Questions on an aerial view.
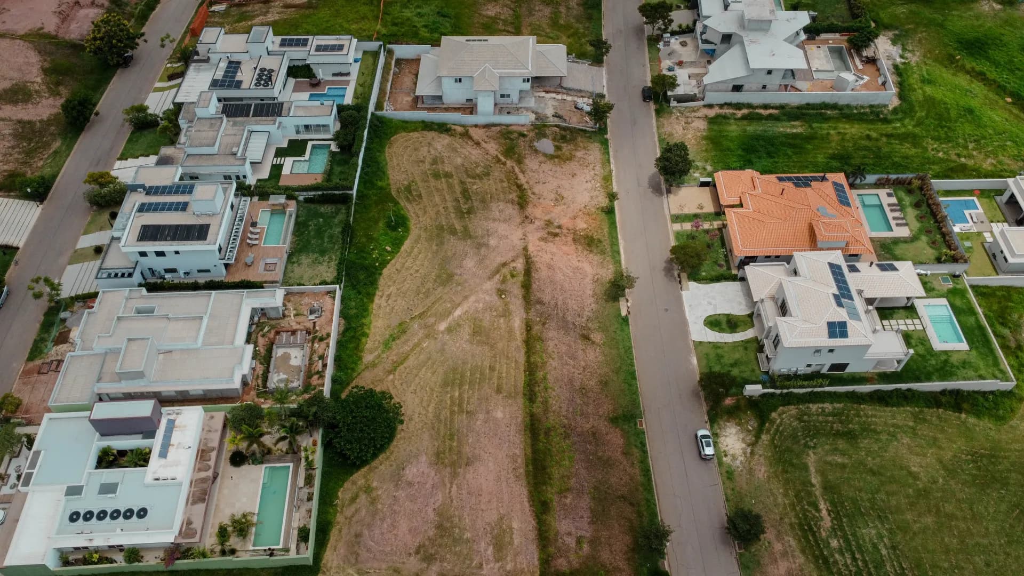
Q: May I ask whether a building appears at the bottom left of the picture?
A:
Yes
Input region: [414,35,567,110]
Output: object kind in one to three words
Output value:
house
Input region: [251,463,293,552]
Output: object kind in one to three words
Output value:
swimming pool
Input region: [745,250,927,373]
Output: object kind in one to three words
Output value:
house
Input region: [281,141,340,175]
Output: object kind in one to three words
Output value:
swimming pool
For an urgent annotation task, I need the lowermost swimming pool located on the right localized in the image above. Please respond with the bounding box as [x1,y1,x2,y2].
[914,298,969,351]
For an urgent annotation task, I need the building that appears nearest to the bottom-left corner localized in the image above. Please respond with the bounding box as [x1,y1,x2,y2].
[4,399,227,576]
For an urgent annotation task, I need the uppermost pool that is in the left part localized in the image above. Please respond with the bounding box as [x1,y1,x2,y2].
[307,86,350,106]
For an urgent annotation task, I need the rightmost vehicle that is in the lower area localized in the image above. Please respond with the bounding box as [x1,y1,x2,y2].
[695,430,716,459]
